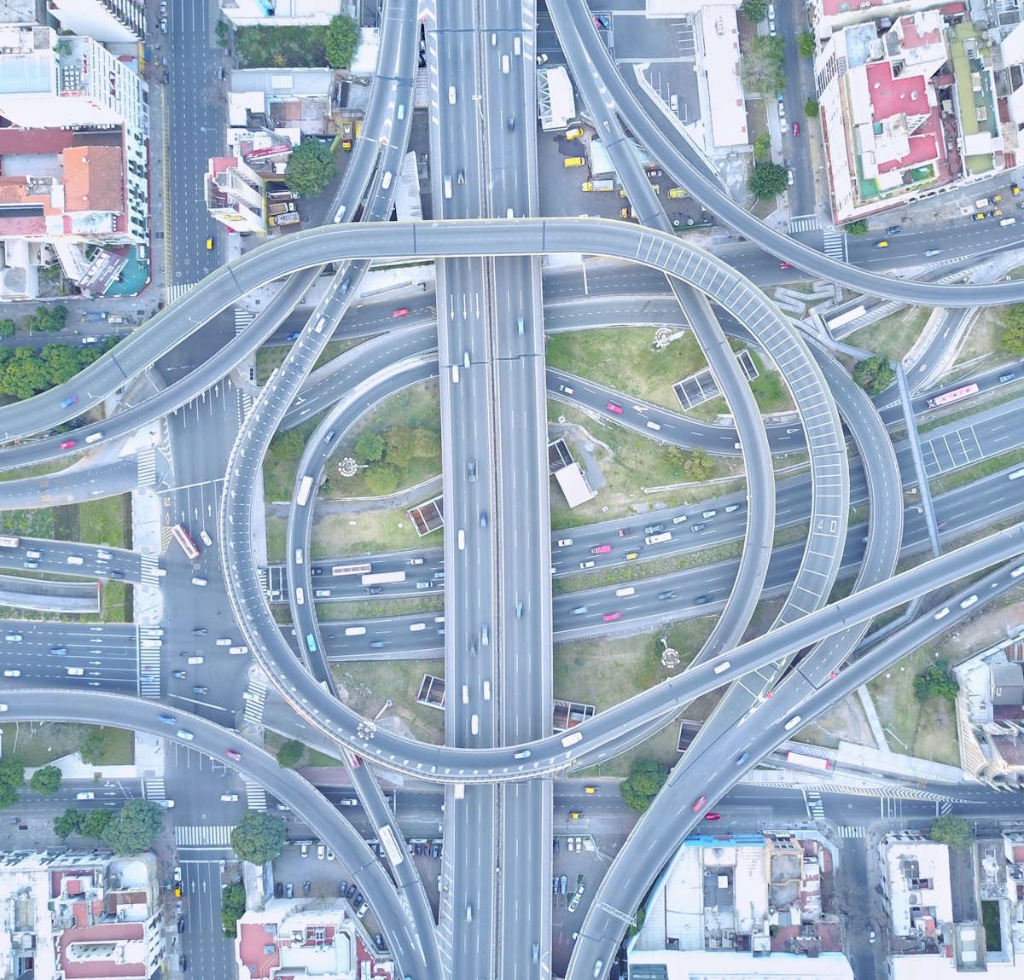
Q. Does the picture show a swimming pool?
No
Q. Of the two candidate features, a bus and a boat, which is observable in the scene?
bus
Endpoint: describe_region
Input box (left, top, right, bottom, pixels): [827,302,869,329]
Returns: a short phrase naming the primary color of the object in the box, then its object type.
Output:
white bus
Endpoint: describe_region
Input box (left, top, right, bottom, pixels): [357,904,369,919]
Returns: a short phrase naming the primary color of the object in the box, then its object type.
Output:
white vehicle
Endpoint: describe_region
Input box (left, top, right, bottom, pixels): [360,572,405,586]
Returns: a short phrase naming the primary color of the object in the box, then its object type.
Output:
white vehicle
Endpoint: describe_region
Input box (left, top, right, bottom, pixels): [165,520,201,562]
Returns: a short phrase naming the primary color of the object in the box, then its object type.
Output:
white bus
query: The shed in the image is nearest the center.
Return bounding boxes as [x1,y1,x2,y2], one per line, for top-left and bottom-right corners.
[555,463,597,507]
